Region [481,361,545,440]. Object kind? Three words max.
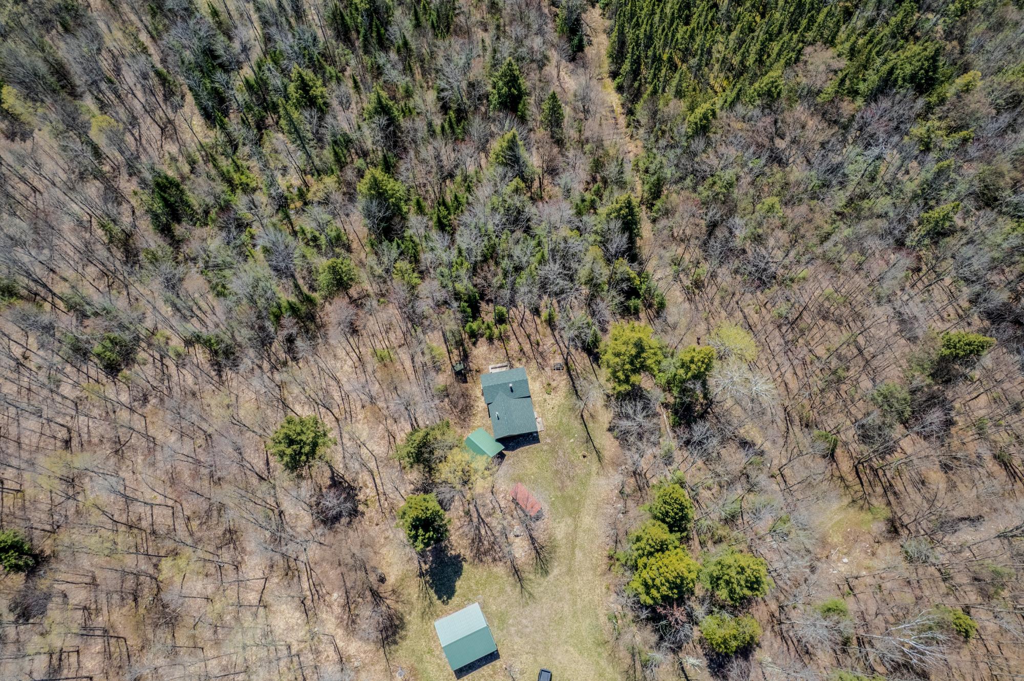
building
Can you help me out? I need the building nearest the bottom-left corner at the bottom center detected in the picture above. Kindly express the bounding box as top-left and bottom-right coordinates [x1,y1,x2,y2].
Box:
[434,602,497,672]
